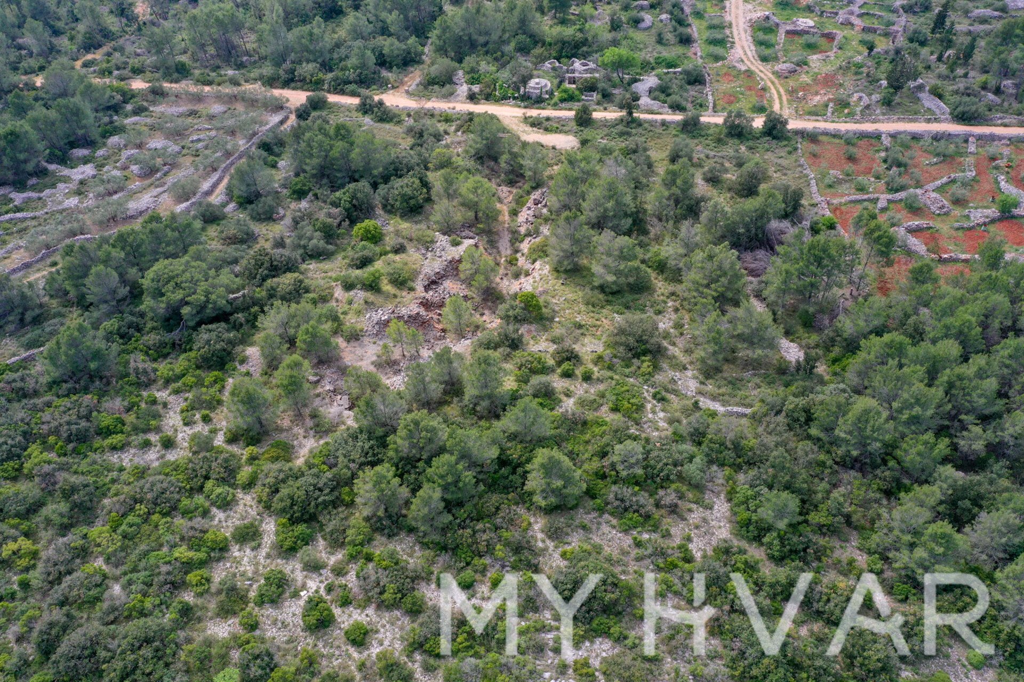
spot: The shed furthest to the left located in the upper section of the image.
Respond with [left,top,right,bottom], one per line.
[522,79,555,103]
